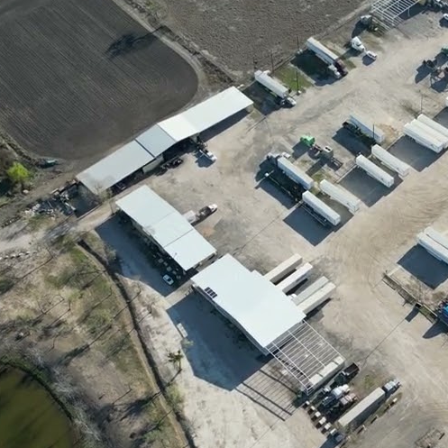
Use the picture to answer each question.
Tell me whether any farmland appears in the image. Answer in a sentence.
Yes, there's farmland in this view.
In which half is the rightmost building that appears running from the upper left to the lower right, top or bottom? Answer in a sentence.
You can find the rightmost building that appears running from the upper left to the lower right in the bottom half.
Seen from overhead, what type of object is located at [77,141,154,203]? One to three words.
shed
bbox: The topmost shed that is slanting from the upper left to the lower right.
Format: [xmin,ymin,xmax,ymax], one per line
[116,186,216,277]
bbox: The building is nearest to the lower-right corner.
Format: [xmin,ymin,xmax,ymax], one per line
[191,254,305,357]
